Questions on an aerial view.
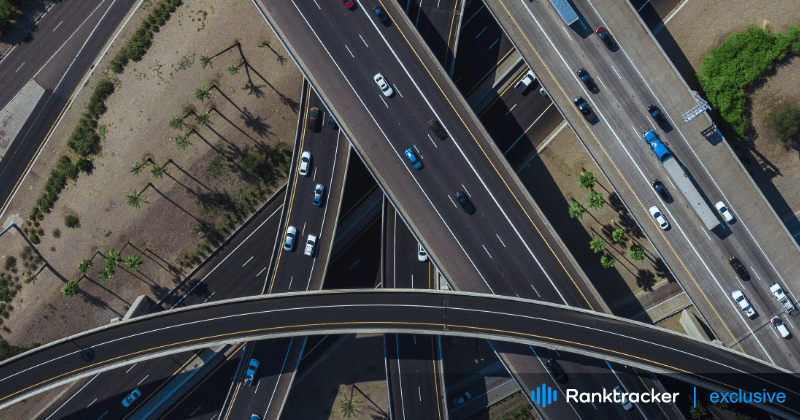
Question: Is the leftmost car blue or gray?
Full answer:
The leftmost car is blue.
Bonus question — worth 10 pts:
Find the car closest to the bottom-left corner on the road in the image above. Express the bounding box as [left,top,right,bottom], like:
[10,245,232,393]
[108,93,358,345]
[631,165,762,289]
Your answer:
[123,386,143,406]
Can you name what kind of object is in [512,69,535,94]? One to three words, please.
truck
